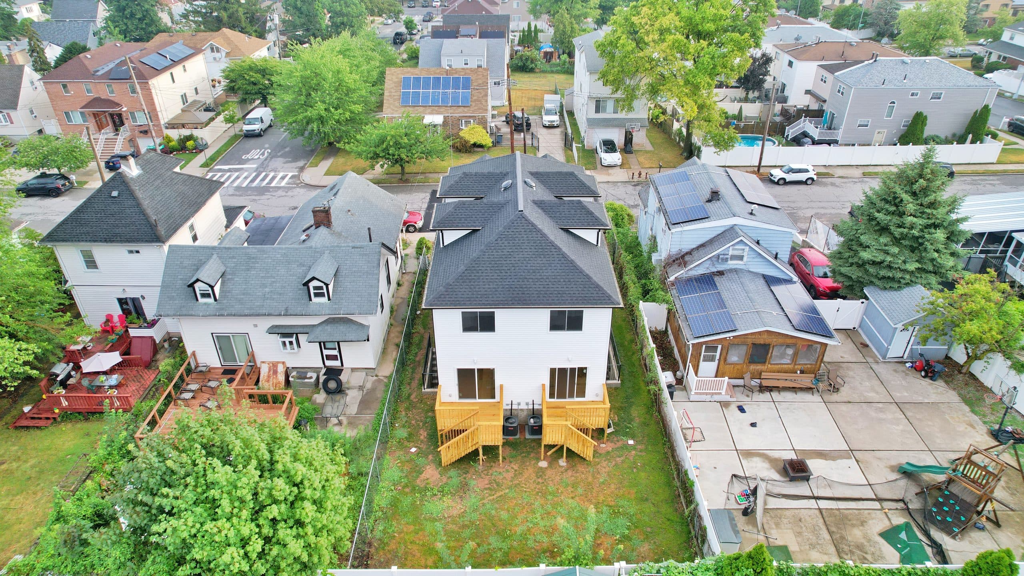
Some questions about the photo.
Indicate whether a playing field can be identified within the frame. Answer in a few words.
No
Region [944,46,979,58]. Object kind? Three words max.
vehicle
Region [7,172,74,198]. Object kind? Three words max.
car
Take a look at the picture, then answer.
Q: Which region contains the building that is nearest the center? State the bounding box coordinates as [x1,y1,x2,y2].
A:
[418,149,627,423]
